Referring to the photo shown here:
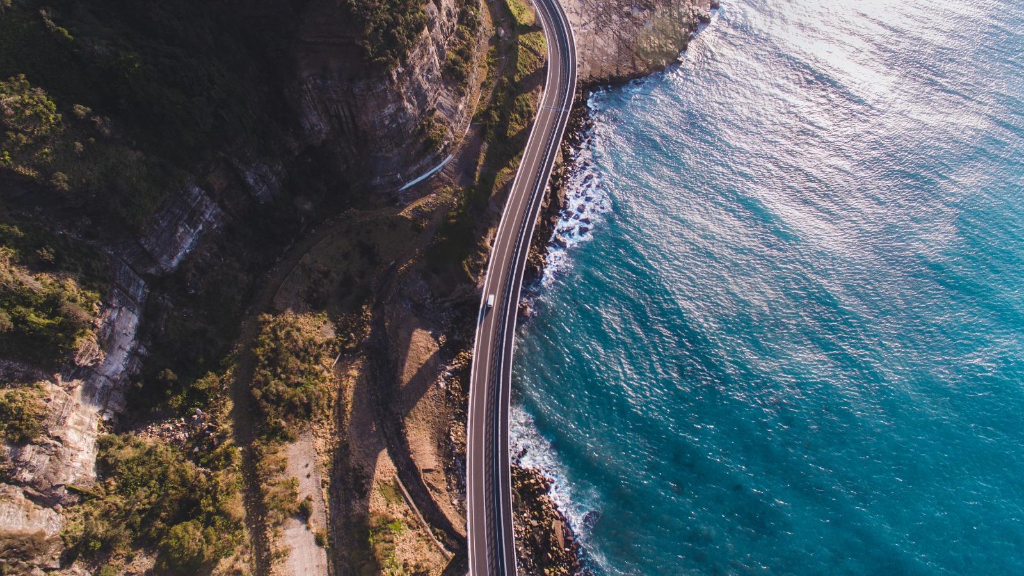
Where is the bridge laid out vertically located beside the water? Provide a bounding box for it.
[467,0,578,576]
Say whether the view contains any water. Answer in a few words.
Yes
